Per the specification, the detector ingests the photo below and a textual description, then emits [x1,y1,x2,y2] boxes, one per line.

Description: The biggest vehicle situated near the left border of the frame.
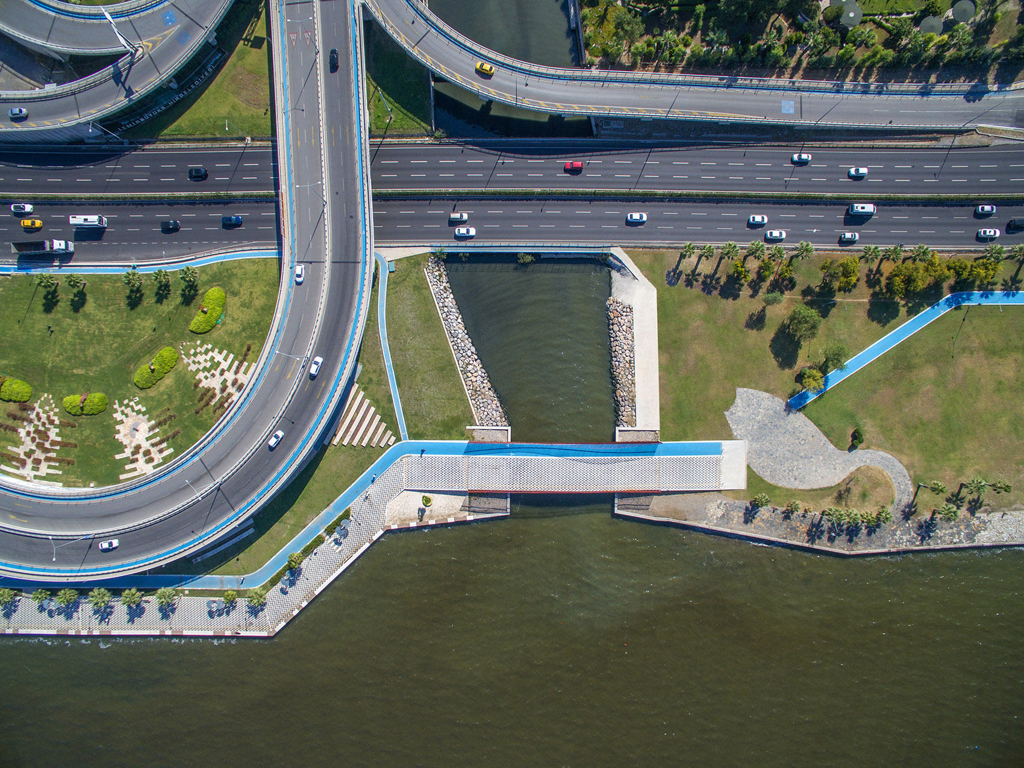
[11,240,76,254]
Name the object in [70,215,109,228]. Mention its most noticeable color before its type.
white vehicle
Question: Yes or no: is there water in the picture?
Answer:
Yes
